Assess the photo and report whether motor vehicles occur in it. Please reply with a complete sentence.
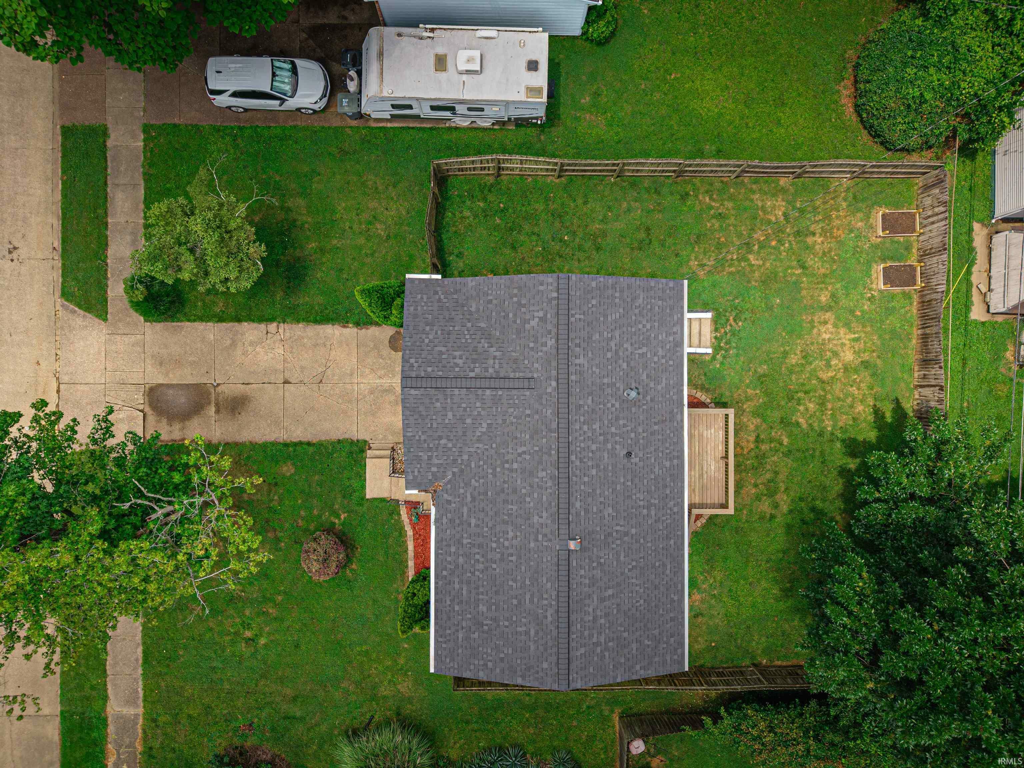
Yes, a motor vehicle can be made out from above.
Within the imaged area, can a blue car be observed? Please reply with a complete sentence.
No, no blue car can be seen from above.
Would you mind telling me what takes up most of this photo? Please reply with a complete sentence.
The bulk of the photo consists of grass.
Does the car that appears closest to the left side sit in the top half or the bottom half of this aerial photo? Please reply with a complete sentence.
It is in the top half that the car that appears closest to the left side appears.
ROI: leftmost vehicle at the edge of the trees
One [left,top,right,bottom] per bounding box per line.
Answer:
[205,49,332,117]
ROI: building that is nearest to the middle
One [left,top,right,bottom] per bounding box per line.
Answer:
[401,274,688,689]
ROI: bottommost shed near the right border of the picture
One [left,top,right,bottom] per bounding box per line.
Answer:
[977,232,1024,312]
